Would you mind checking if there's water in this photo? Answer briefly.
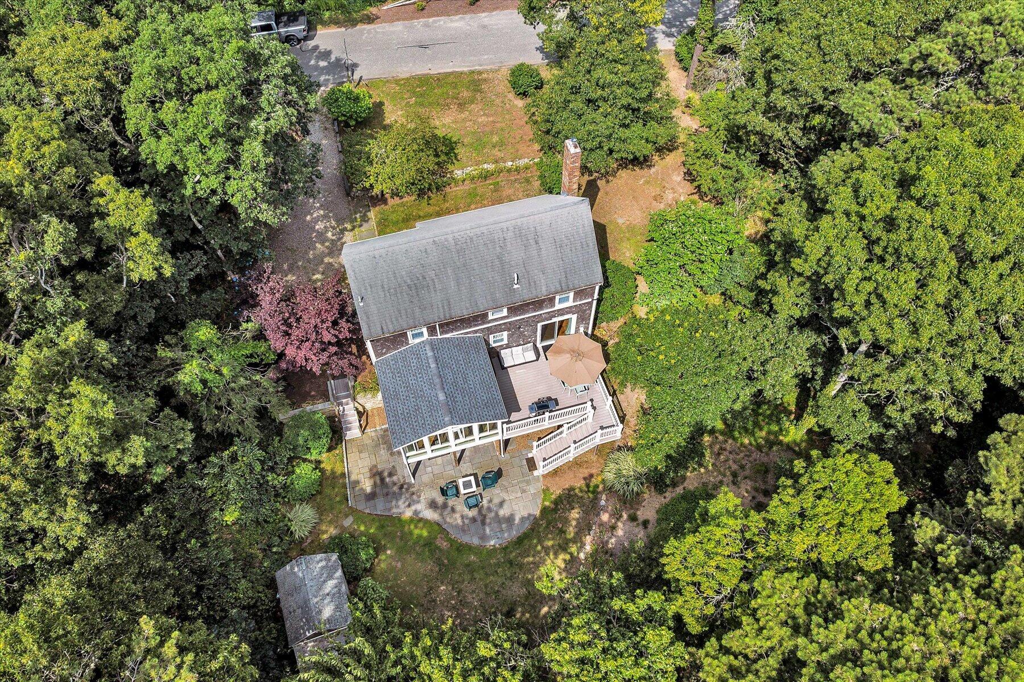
No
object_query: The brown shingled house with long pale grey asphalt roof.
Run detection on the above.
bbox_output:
[342,135,605,363]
